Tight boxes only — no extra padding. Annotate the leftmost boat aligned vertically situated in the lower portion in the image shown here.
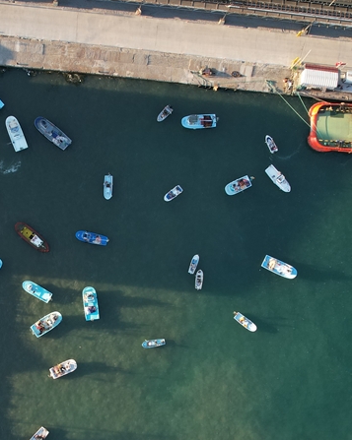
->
[83,286,98,322]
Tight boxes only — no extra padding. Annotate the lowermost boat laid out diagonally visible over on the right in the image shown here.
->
[231,310,257,333]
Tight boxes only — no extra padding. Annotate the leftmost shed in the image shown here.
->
[297,62,338,94]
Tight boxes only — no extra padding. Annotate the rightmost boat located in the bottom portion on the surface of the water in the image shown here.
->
[260,254,297,278]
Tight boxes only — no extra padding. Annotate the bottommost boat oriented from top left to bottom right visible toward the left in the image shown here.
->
[22,281,54,304]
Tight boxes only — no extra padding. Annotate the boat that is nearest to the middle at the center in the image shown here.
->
[164,185,184,201]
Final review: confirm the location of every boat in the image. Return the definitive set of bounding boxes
[37,118,72,151]
[181,114,219,129]
[6,115,28,152]
[47,360,77,380]
[231,310,257,333]
[83,286,98,322]
[264,135,278,155]
[262,162,290,192]
[164,185,184,201]
[224,174,254,194]
[187,255,199,276]
[195,269,203,292]
[260,254,297,278]
[306,102,352,155]
[104,173,112,200]
[28,312,61,340]
[157,105,173,122]
[22,281,54,304]
[75,231,110,246]
[141,338,167,349]
[30,425,51,440]
[15,222,48,252]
